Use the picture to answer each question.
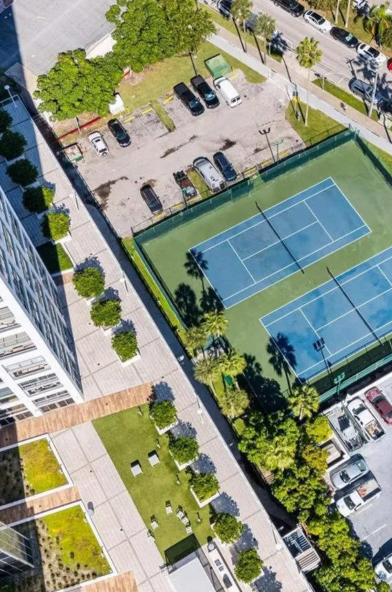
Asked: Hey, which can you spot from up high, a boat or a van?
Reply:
van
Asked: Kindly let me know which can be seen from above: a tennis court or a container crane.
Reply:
tennis court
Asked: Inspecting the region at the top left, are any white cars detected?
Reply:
Yes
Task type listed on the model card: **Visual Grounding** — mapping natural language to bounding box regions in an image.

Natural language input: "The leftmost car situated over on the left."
[88,130,108,157]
